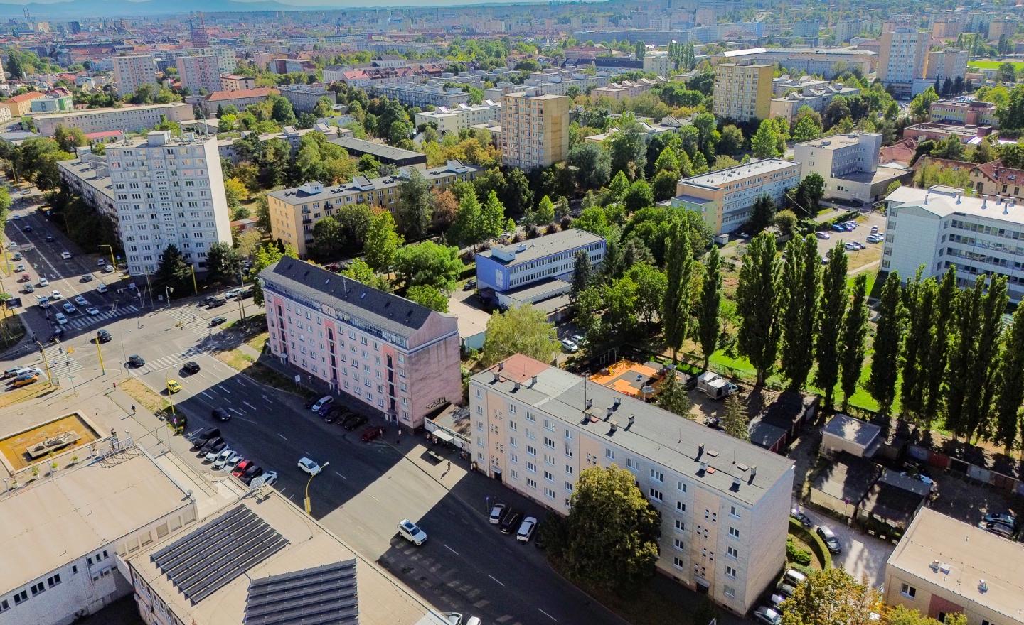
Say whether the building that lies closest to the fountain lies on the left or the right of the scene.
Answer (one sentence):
The building that lies closest to the fountain appears in the left half of the scene.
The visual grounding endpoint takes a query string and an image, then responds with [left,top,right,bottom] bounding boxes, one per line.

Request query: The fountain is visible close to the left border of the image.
[0,407,108,474]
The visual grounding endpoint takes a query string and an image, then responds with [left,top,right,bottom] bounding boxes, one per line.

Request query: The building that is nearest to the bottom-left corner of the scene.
[0,444,202,625]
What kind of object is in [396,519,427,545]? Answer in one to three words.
car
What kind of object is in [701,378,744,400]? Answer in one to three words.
vehicle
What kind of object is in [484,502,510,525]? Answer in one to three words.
car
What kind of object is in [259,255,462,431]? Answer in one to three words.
building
